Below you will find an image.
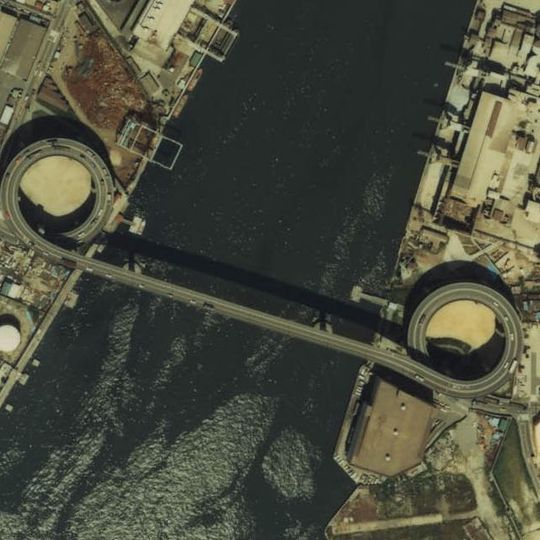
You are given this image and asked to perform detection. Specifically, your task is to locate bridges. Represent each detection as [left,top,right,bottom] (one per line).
[0,133,540,417]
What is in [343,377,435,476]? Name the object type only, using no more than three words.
building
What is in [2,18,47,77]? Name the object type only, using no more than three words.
shed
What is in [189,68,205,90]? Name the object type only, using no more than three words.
vessel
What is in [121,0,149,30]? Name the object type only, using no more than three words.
shed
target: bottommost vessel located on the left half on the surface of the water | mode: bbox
[176,94,191,118]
